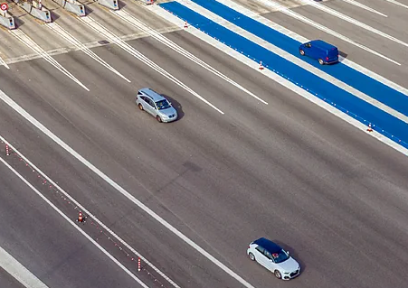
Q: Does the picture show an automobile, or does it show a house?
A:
automobile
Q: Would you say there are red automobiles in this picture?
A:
No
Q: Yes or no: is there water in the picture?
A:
No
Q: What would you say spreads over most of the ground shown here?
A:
paved ground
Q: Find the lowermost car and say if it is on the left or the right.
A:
right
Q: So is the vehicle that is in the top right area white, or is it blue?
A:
blue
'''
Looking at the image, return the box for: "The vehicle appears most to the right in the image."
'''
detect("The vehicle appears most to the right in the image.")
[299,34,342,60]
